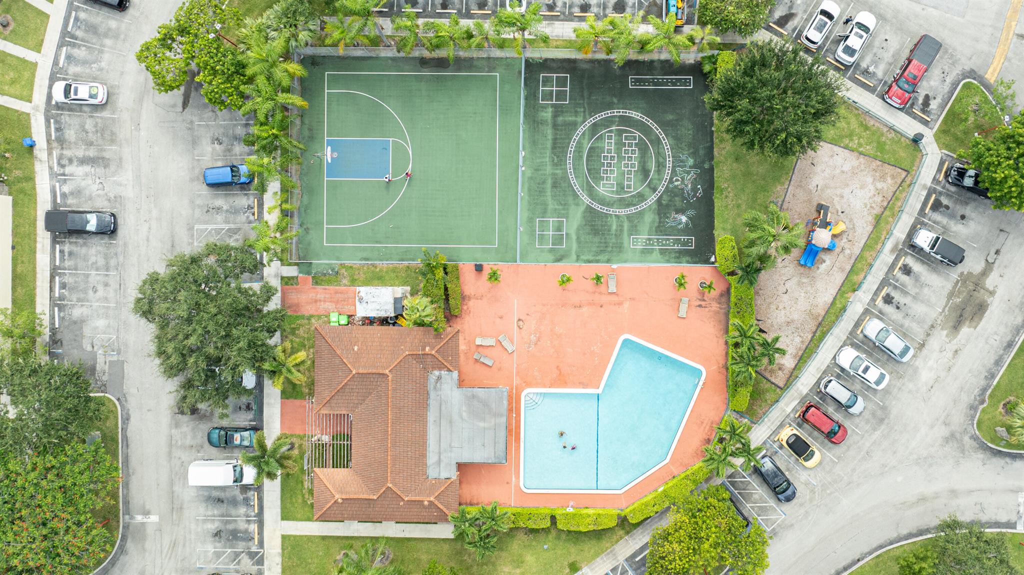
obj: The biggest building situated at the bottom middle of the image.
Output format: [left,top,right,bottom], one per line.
[313,325,508,522]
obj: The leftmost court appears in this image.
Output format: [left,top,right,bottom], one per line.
[298,56,522,275]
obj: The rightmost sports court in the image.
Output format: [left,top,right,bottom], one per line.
[520,57,717,265]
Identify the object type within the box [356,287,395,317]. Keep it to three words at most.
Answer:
shed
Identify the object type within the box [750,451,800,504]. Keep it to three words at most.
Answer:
car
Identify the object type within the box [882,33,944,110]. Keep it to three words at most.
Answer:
truck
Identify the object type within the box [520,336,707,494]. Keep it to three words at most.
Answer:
swimming pool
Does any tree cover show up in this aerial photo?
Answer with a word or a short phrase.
Yes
